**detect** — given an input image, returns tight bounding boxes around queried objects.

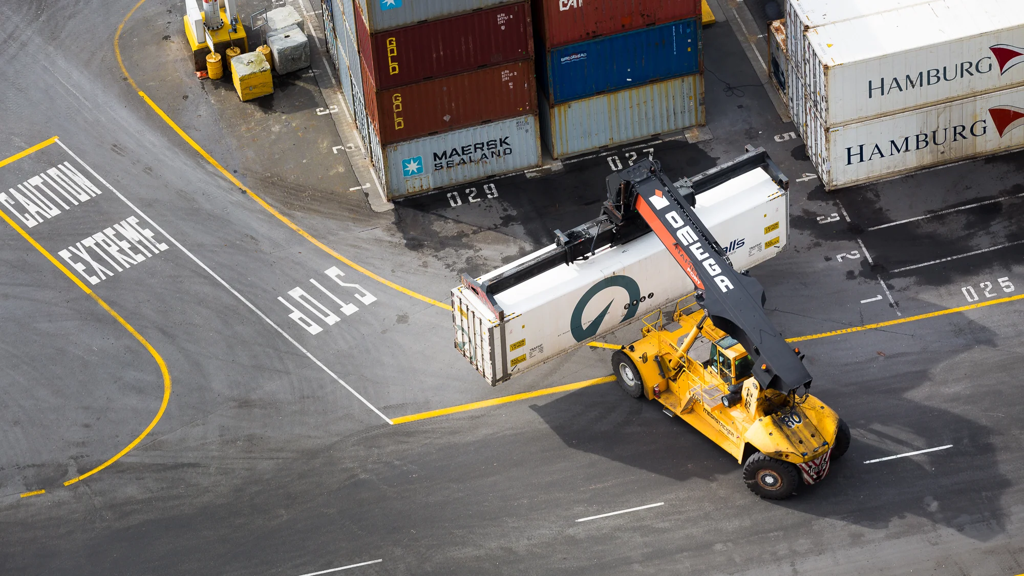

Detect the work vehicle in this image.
[462,145,852,500]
